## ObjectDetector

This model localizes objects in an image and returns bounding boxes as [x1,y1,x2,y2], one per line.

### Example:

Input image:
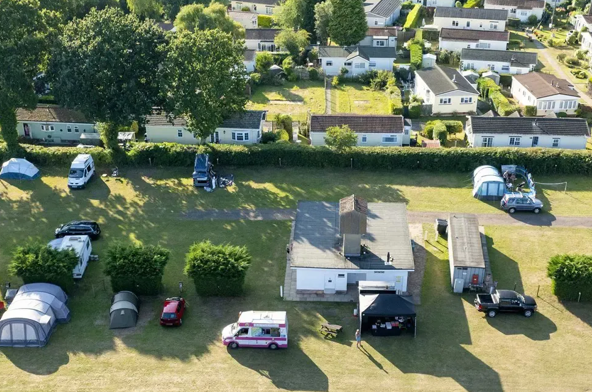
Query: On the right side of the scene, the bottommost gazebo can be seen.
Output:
[359,296,419,337]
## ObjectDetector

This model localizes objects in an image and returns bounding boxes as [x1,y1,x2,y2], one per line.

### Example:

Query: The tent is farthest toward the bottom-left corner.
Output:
[0,281,78,349]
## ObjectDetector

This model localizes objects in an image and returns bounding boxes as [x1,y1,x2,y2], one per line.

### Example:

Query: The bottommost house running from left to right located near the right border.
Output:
[461,115,591,150]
